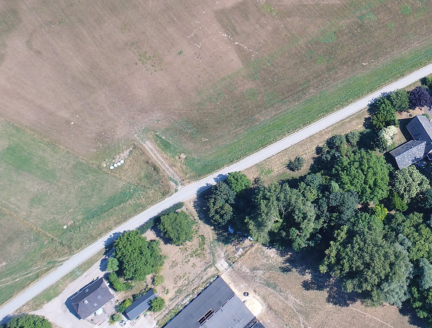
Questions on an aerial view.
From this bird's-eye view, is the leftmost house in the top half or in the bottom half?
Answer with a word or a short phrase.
bottom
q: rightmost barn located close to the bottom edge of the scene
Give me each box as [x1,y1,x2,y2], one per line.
[161,276,254,328]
